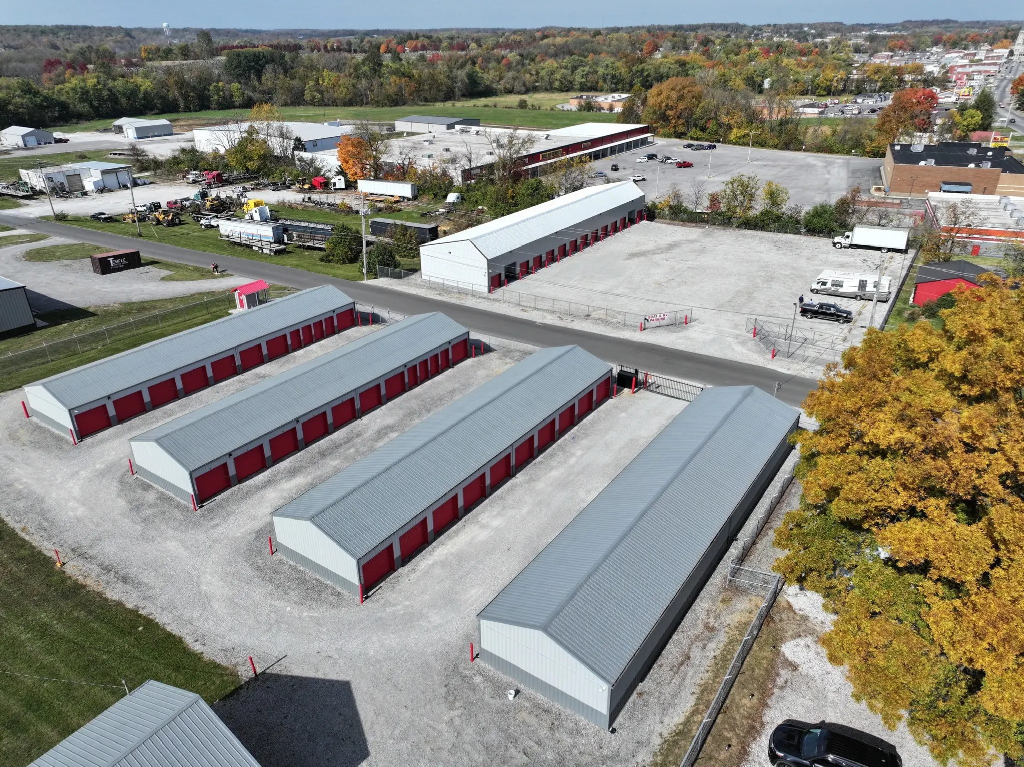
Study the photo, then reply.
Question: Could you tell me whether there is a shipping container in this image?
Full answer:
Yes, the photo shows a shipping container.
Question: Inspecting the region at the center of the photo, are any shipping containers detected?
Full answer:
No, I see no shipping container at the center of the photo.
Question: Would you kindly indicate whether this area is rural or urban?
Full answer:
It looks urban.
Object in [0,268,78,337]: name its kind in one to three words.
barn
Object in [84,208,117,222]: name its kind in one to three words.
vehicle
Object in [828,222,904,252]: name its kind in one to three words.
truck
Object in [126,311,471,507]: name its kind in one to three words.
building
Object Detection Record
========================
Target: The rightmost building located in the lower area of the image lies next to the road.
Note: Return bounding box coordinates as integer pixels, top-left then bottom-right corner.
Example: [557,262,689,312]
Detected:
[475,385,800,729]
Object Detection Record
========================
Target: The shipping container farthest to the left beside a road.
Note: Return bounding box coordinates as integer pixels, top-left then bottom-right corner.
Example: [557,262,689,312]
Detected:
[91,246,141,274]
